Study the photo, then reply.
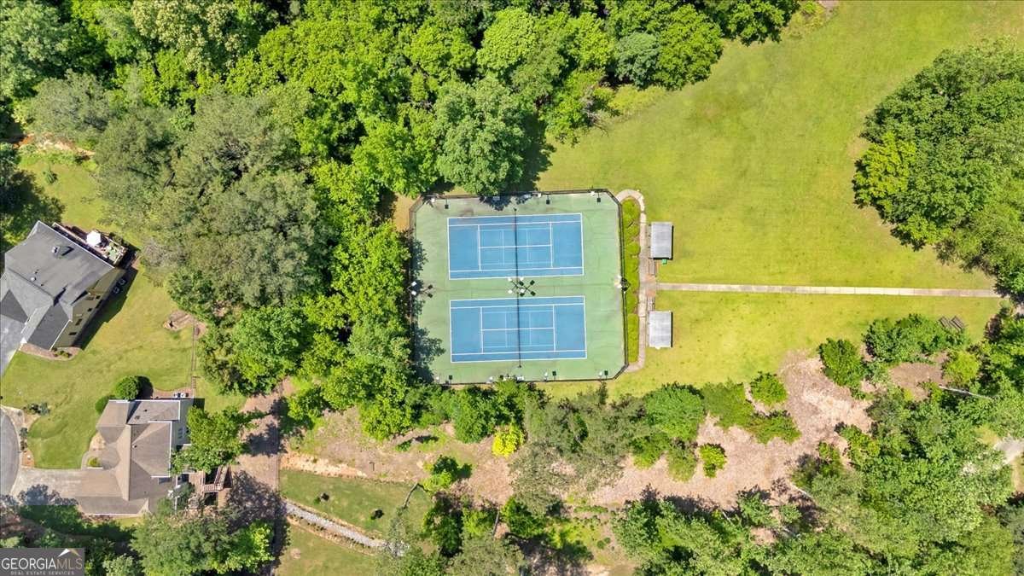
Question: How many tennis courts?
2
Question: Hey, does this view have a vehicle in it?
No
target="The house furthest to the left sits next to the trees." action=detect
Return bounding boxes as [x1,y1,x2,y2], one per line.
[0,218,126,354]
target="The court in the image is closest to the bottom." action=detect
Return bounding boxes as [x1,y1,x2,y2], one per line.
[450,293,586,367]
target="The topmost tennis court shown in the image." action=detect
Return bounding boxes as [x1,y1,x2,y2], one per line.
[448,209,583,283]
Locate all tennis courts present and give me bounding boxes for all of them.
[450,293,586,367]
[448,209,583,283]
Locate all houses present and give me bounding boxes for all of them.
[79,397,192,515]
[0,218,126,354]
